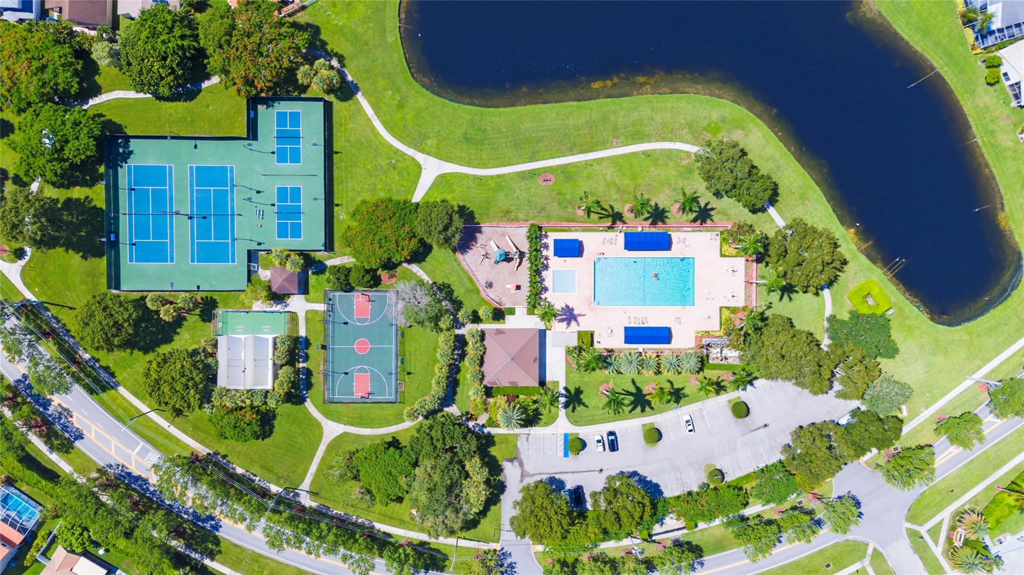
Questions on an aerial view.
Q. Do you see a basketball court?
Yes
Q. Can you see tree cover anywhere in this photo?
Yes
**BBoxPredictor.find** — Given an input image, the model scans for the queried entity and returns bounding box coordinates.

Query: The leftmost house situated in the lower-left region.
[0,515,30,565]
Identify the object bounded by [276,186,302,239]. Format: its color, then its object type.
blue sports court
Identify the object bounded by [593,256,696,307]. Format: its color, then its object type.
blue swimming pool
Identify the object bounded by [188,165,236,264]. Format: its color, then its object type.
blue tennis court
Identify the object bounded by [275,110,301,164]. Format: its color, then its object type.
blue sports court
